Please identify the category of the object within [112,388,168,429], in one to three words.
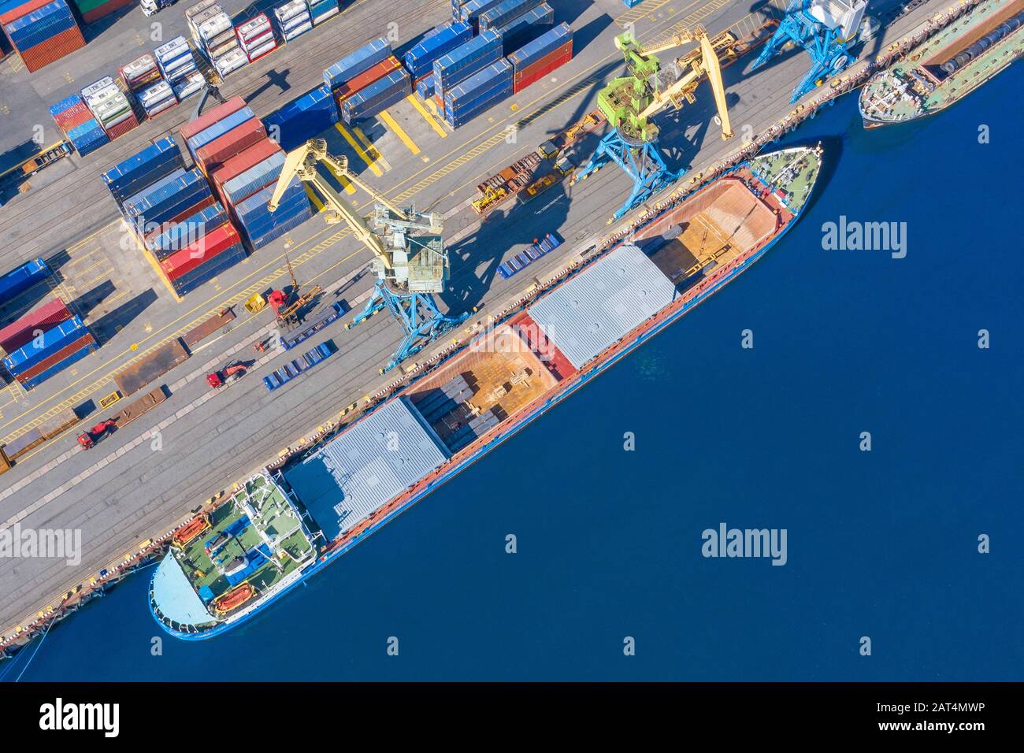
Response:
trailer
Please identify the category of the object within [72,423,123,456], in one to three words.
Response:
truck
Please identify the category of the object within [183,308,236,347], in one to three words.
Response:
trailer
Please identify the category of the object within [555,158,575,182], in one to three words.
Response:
vehicle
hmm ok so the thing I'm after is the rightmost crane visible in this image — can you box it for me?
[746,0,868,106]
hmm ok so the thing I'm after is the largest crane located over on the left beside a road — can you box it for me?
[271,131,479,376]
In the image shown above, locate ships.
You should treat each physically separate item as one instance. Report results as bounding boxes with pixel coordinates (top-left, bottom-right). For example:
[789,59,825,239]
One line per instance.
[148,144,823,642]
[859,0,1024,131]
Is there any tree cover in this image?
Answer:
No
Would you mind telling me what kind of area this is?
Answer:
port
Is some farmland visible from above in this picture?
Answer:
No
